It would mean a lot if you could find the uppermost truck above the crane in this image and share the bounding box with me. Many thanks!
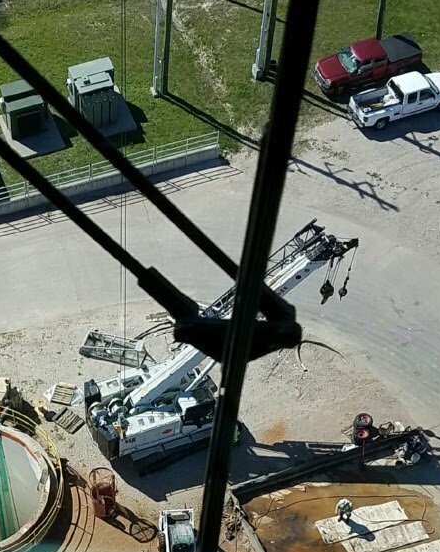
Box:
[306,33,426,96]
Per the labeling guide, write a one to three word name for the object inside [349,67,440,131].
truck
